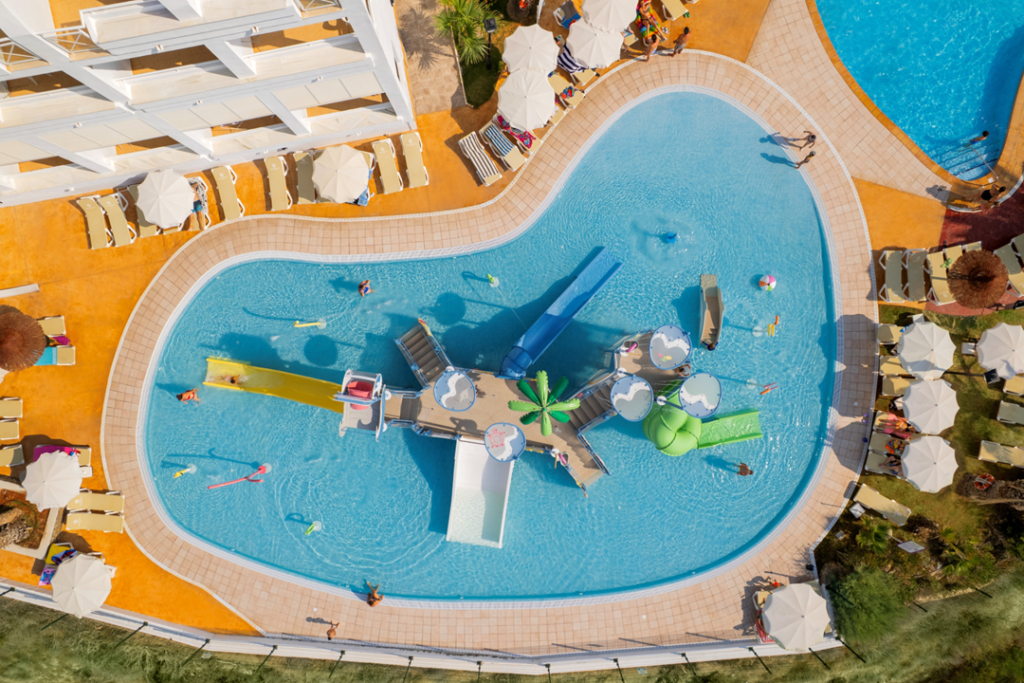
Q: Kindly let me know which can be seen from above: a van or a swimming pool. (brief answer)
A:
swimming pool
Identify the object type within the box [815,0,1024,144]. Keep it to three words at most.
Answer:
swimming pool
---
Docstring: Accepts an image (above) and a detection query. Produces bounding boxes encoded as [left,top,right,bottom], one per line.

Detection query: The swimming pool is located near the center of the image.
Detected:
[144,92,837,601]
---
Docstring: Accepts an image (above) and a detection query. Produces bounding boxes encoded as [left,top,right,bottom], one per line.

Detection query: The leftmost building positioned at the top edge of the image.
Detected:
[0,0,415,205]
